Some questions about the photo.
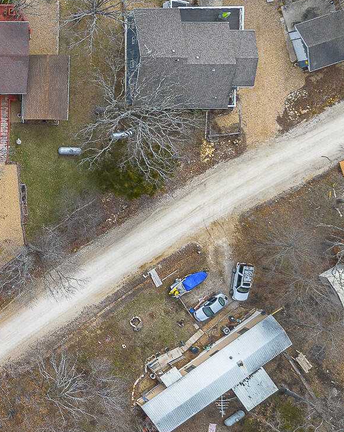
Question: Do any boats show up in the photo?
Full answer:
Yes, this view includes a boat.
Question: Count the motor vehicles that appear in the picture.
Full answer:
The picture shows 2 motor vehicles.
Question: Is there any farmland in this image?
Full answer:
No, farmland can't be seen anywhere here.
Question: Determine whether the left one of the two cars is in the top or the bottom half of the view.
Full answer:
The bottom half of the photo is where the left one of the two cars is.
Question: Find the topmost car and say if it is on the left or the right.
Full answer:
The topmost car sits on the right side.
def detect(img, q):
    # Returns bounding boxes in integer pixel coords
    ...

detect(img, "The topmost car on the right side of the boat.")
[229,262,255,302]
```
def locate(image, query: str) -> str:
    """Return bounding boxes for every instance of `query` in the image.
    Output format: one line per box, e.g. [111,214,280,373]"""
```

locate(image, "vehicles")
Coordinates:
[229,262,255,302]
[191,291,230,323]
